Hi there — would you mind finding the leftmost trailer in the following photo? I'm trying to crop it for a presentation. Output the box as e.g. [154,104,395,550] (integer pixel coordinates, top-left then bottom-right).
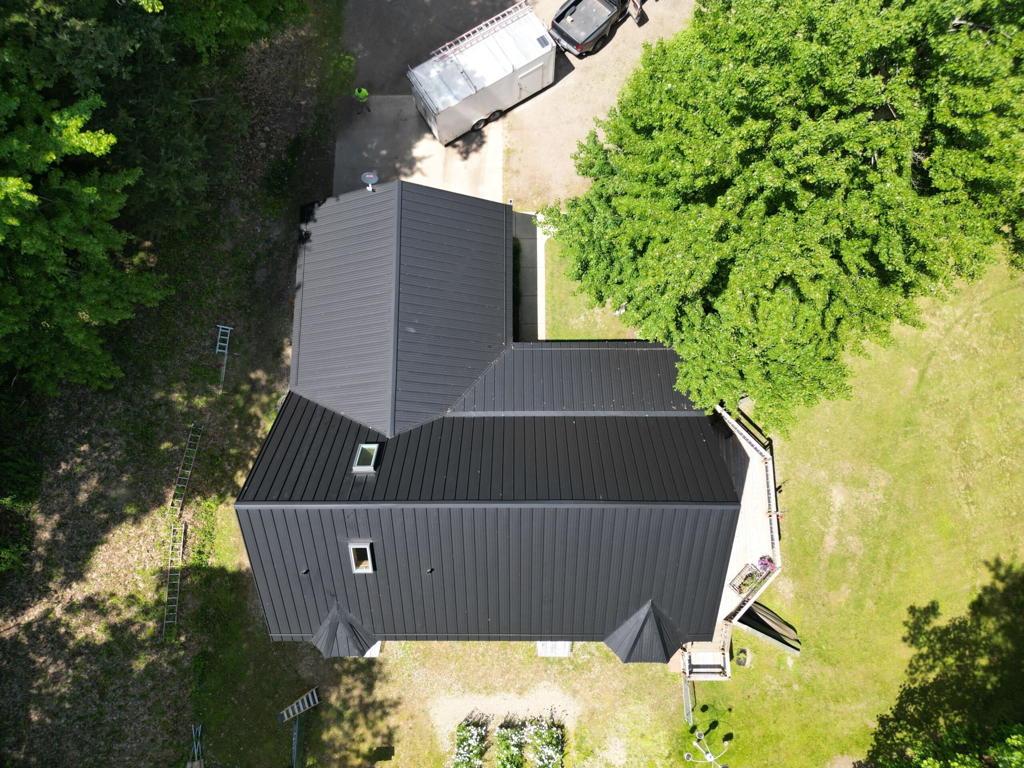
[406,7,560,144]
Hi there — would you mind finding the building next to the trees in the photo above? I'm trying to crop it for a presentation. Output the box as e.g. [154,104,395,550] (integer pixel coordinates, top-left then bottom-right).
[234,179,742,664]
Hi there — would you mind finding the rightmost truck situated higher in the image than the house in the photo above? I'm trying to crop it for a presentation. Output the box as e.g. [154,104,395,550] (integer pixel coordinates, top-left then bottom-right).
[549,0,644,58]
